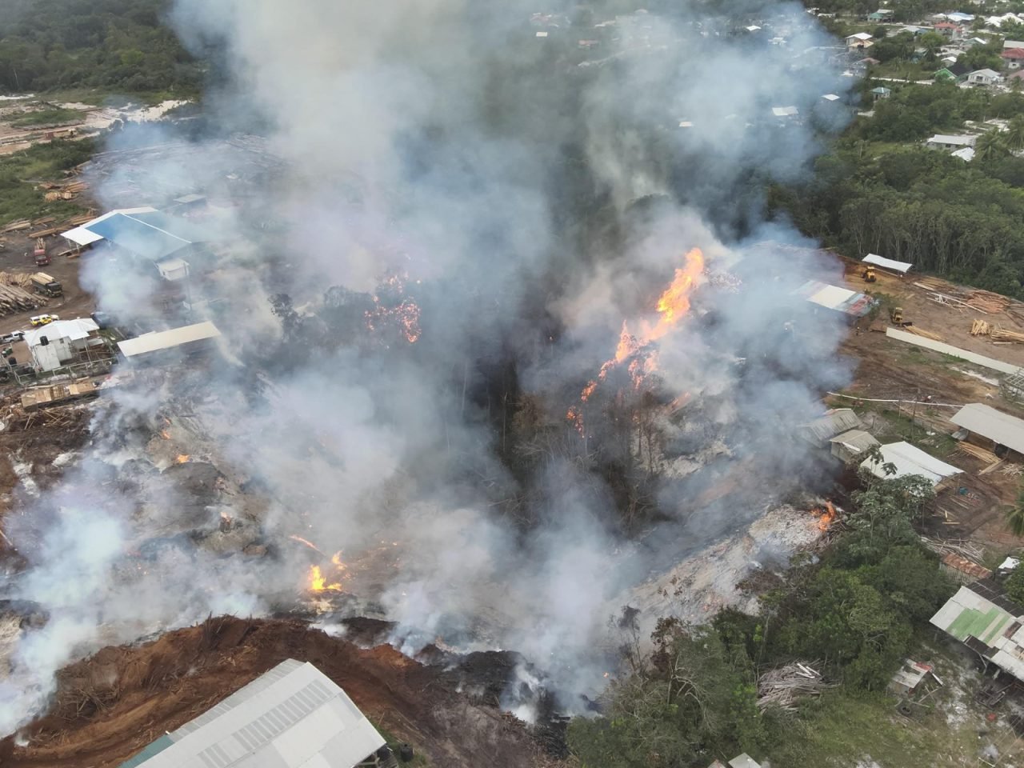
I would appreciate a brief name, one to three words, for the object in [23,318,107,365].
house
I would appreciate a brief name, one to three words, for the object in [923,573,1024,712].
building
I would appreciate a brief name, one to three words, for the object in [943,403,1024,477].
shed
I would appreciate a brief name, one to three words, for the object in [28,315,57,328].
vehicle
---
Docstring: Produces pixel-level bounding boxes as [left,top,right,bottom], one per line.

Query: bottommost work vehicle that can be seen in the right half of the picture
[889,307,911,330]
